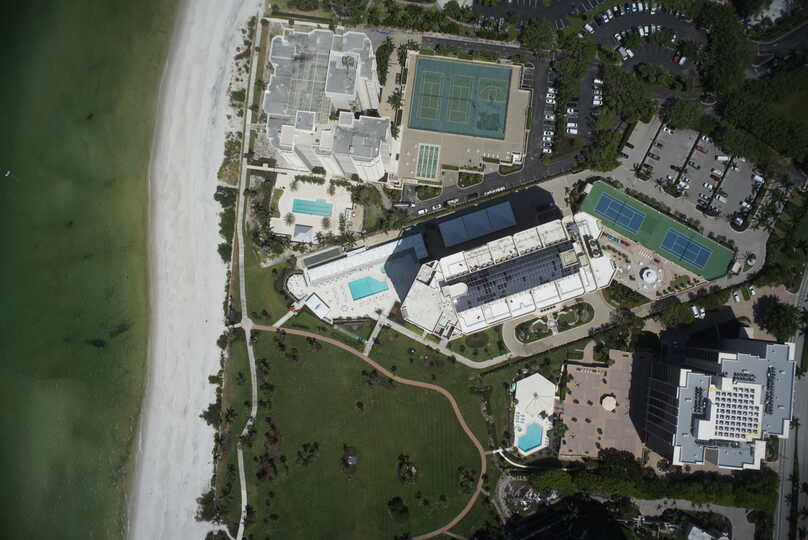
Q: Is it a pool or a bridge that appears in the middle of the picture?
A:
pool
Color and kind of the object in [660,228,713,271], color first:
blue tennis court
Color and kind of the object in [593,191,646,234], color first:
blue tennis court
